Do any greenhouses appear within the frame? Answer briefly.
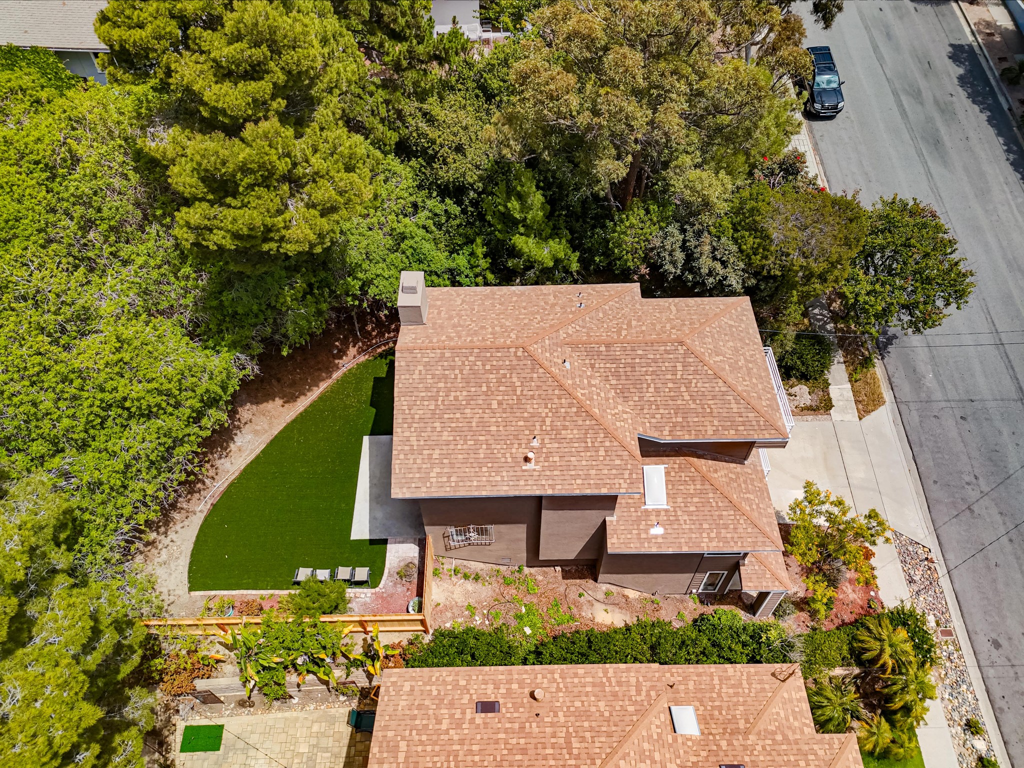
No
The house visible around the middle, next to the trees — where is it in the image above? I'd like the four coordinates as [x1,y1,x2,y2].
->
[390,274,795,616]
